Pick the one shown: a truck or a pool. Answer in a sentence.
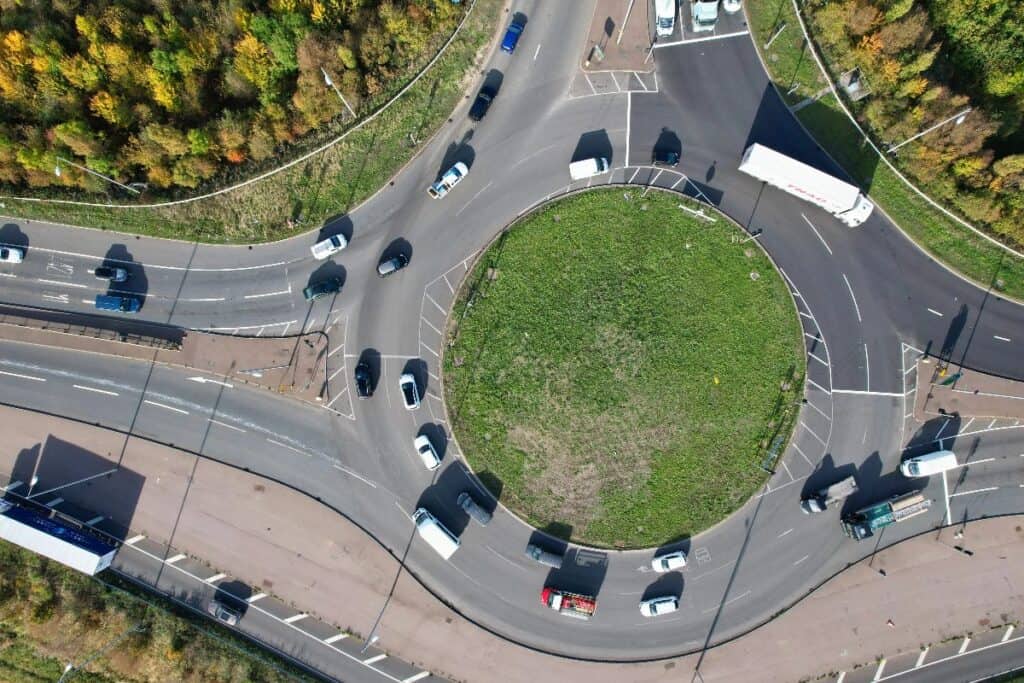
Of the two, only a truck appears.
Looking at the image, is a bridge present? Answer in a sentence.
No, this view has no bridge in it.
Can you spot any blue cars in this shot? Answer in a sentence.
Yes, there is a blue car in the image.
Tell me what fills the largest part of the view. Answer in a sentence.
The bulk of the photo consists of paved ground.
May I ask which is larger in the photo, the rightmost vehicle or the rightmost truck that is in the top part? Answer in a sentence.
Of the two, the truck is larger and the vehicle is the smaller one.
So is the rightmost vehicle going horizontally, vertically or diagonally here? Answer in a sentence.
What the image shows is the rightmost vehicle lying horizontally.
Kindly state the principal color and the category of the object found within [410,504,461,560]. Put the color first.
white truck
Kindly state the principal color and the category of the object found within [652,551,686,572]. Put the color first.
white car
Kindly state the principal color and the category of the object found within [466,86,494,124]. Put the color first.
black car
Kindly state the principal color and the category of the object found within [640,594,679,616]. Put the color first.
white car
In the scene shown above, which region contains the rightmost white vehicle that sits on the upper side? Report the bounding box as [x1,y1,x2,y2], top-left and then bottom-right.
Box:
[736,143,871,228]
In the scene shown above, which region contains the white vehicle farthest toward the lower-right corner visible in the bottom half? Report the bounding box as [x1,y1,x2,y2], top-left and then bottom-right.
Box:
[898,451,959,477]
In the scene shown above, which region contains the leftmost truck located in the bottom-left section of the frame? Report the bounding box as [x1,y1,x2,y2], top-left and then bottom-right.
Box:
[0,498,119,576]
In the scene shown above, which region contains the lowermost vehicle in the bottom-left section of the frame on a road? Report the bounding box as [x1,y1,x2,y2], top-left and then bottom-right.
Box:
[209,599,243,626]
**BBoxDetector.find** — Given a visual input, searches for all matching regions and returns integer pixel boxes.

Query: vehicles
[798,475,857,516]
[640,594,679,616]
[376,253,409,278]
[723,0,741,14]
[838,491,922,539]
[410,504,461,560]
[649,151,682,170]
[525,542,564,569]
[400,372,421,410]
[209,599,243,626]
[458,492,493,525]
[736,143,871,228]
[416,433,441,471]
[652,551,686,572]
[541,588,597,620]
[308,234,350,261]
[898,451,959,477]
[501,22,523,55]
[428,163,471,200]
[654,0,676,36]
[0,498,119,576]
[95,266,130,283]
[568,156,610,182]
[304,281,343,302]
[95,294,142,313]
[466,86,494,124]
[354,361,373,399]
[0,246,25,264]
